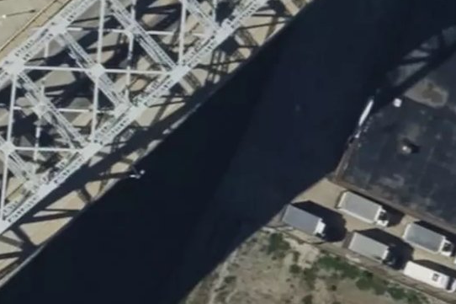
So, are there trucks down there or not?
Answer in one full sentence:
Yes, a truck is visible in the scene.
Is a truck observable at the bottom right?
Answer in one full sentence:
Yes, a truck appears at the bottom right.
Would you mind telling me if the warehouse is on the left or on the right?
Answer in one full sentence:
The warehouse appears in the right half of the scene.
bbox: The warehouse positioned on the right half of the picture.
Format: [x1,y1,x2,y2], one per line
[336,18,456,232]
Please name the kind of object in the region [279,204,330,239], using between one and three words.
truck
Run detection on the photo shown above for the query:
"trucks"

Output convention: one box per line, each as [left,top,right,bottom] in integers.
[336,191,390,228]
[400,261,456,293]
[346,233,398,266]
[279,204,330,239]
[400,224,454,257]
